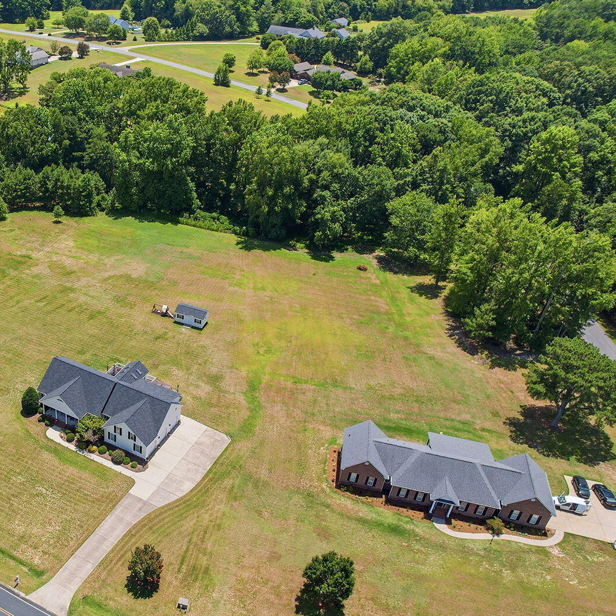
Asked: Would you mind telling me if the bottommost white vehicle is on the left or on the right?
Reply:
right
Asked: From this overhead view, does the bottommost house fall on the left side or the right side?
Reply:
right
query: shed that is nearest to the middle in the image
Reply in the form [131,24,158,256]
[175,303,210,328]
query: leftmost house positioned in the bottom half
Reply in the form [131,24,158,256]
[36,357,186,462]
